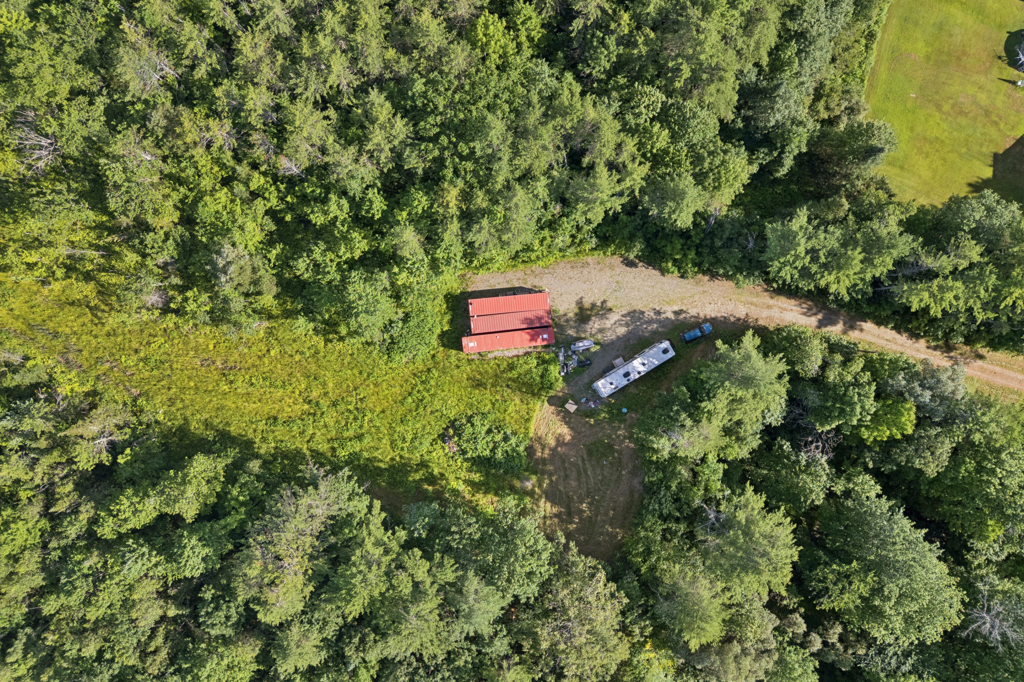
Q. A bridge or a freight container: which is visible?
freight container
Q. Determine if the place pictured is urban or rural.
rural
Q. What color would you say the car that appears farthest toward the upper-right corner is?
blue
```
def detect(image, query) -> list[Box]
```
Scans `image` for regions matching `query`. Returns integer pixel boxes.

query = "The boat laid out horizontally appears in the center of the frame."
[570,339,596,351]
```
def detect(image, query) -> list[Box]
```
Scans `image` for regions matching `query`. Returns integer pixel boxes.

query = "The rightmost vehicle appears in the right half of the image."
[679,321,712,343]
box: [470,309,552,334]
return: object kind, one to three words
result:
shipping container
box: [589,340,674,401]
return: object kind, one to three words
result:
camper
